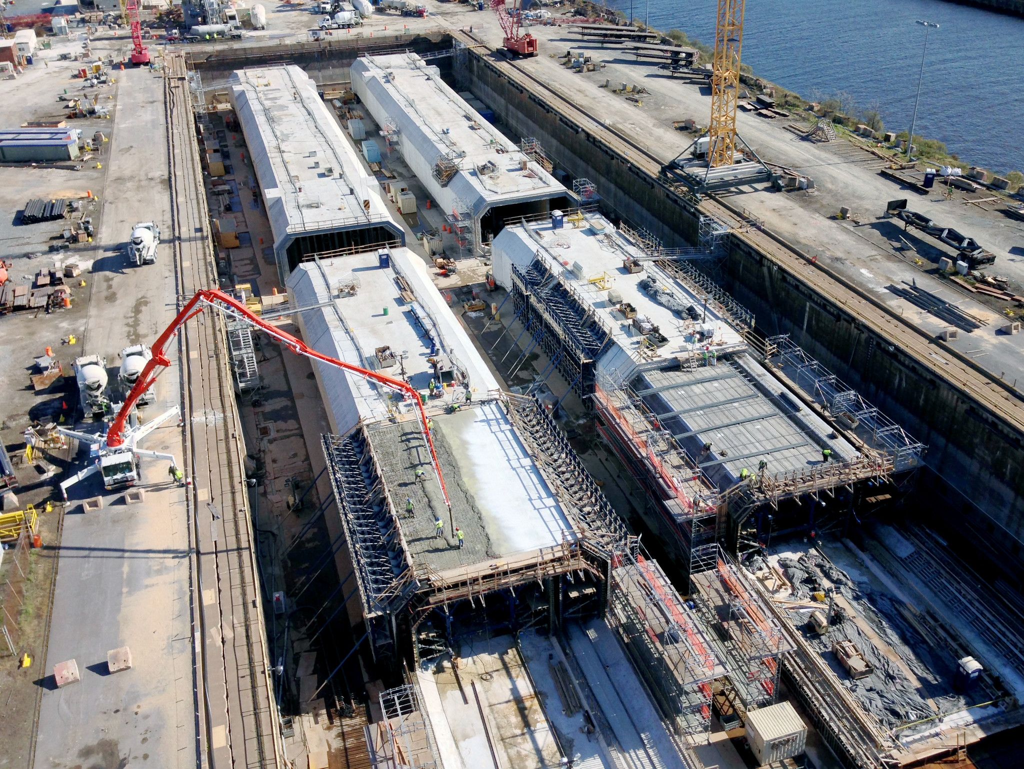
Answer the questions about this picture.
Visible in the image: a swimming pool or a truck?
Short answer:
truck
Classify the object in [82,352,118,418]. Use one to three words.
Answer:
truck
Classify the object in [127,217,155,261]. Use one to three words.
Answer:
truck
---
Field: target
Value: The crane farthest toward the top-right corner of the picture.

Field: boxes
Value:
[656,0,776,199]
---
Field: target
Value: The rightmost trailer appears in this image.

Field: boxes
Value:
[883,193,1003,268]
